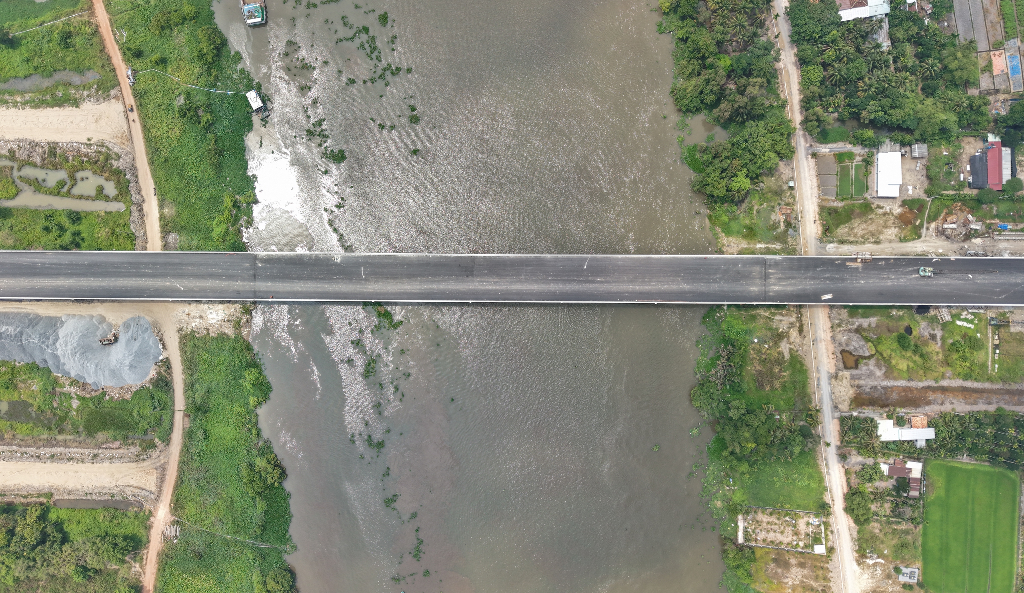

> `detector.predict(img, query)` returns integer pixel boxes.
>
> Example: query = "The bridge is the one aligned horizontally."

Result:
[0,251,1024,306]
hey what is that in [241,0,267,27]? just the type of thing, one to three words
ship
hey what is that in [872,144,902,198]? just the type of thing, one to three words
house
